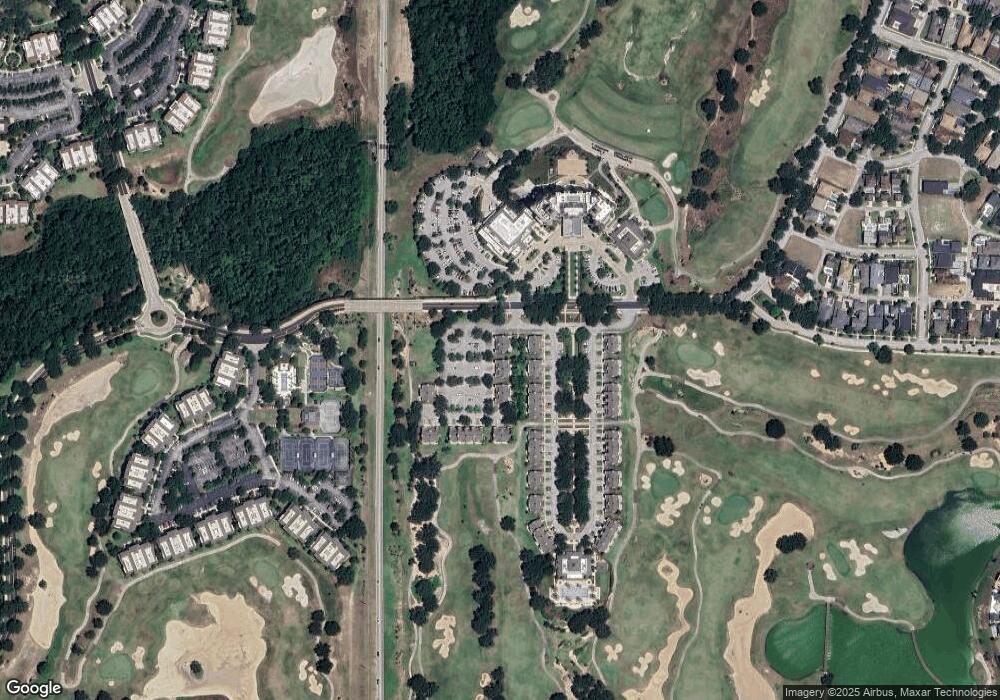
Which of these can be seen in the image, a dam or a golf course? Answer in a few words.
golf course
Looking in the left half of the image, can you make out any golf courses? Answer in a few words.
Yes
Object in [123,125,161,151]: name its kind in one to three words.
building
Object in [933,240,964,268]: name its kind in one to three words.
house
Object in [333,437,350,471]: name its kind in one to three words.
tennis court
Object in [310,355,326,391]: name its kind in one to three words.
sports court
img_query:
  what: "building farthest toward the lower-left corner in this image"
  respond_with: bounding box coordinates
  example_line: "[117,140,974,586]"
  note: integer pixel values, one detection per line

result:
[118,545,157,573]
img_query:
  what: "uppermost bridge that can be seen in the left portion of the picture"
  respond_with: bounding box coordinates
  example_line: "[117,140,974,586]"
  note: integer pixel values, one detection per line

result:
[117,191,161,300]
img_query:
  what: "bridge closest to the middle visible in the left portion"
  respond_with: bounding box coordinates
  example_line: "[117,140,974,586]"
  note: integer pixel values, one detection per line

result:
[344,300,423,312]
